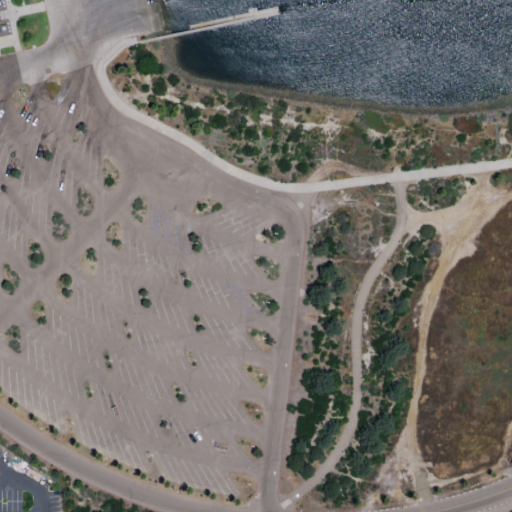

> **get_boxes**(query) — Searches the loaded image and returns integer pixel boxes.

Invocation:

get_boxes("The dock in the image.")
[130,6,280,45]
